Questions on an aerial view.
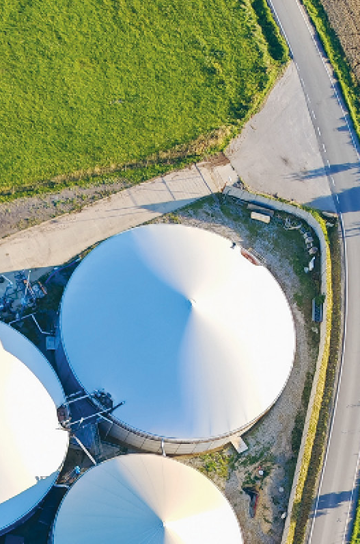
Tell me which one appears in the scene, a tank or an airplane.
tank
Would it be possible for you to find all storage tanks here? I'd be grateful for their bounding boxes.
[0,320,72,541]
[43,222,297,456]
[43,452,244,544]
